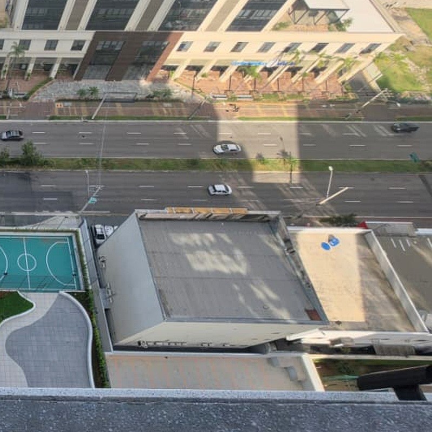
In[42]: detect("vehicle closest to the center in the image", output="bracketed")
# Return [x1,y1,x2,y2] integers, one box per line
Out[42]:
[206,184,232,196]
